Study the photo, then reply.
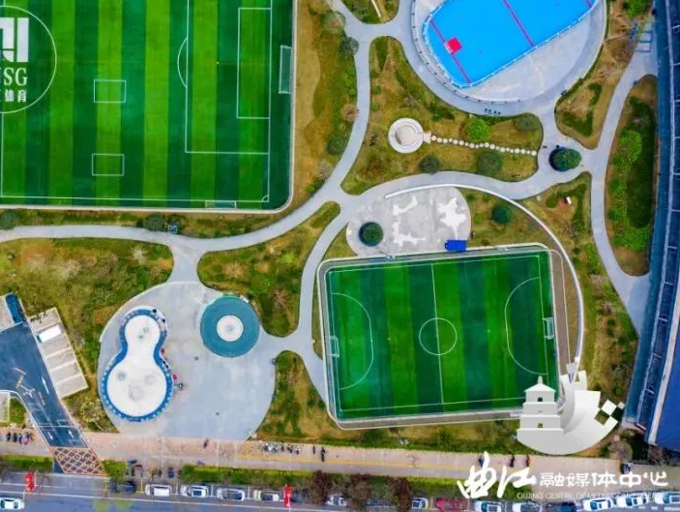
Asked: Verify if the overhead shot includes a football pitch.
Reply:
Yes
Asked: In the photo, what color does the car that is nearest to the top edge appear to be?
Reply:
blue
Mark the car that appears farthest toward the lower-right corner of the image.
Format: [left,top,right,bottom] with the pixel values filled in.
[652,490,680,507]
